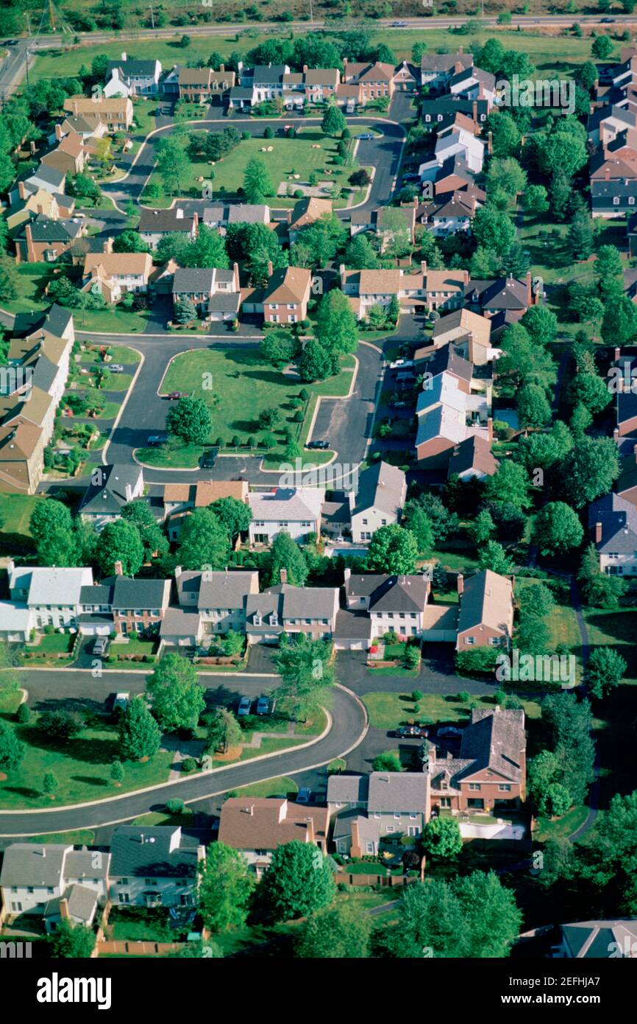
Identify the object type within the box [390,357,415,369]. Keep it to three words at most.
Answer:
vehicle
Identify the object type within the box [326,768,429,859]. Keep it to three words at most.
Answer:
house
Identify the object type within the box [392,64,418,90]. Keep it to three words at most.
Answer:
house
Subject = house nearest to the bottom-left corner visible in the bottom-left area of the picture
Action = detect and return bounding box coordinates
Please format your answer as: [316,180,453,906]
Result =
[0,841,112,939]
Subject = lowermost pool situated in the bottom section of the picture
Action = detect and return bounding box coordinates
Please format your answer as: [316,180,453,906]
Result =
[460,820,526,838]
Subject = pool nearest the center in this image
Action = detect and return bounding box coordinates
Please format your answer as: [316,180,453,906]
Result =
[338,545,373,558]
